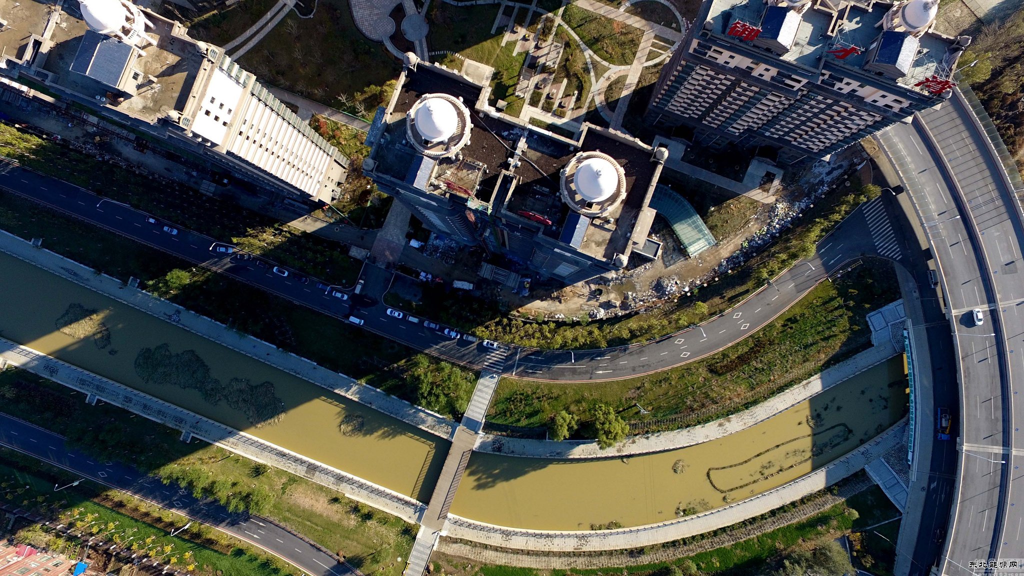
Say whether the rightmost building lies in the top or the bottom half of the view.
top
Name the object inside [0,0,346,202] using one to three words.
building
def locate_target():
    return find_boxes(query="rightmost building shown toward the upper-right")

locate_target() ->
[629,0,976,184]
